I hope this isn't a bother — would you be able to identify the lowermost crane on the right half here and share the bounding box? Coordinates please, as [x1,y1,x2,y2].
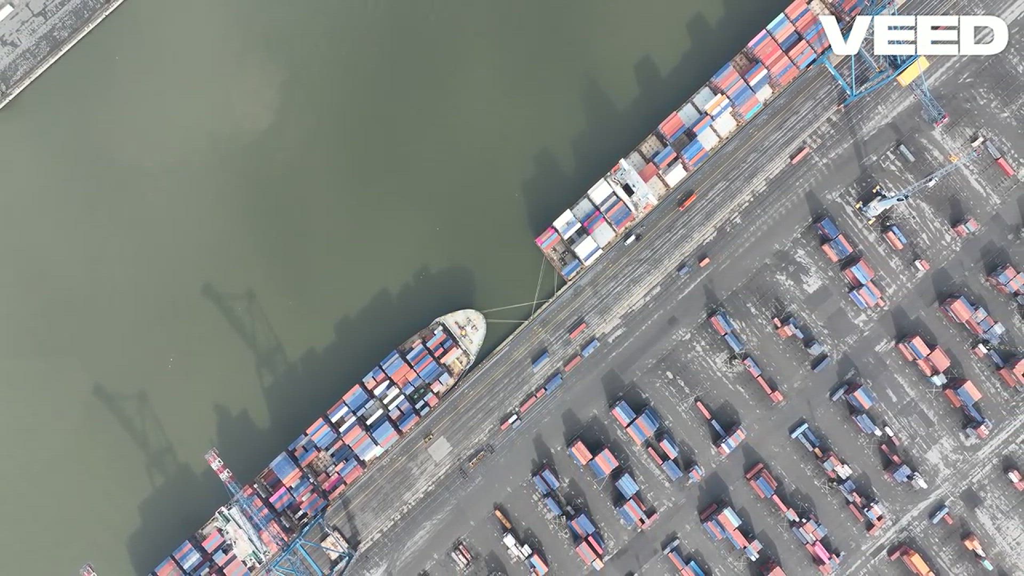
[856,145,983,224]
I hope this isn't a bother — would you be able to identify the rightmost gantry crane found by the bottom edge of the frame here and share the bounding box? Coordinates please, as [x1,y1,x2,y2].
[206,450,361,576]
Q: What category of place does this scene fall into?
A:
port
